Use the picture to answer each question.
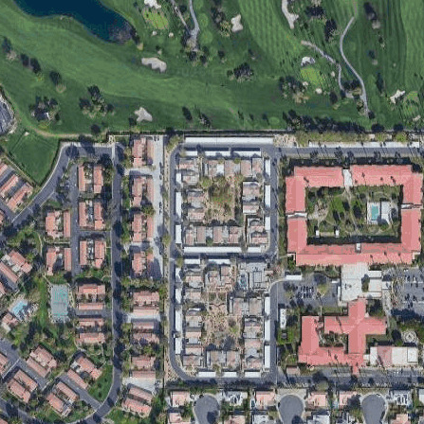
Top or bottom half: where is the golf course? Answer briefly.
top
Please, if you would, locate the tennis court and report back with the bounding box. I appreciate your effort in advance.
[51,283,69,322]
